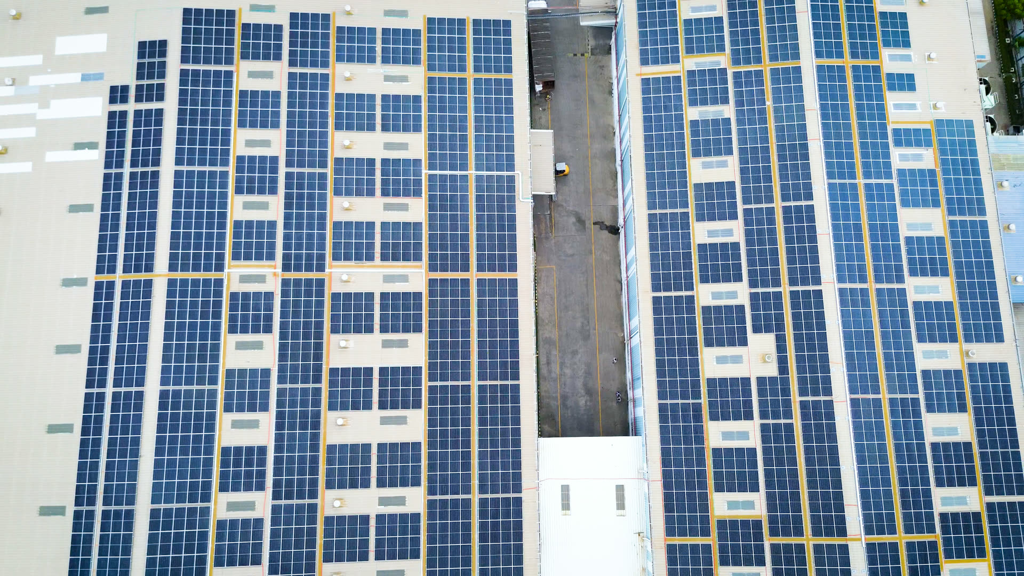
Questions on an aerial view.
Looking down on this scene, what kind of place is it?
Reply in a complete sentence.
The picture captures an industrial area.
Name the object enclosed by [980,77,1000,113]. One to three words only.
cooling tower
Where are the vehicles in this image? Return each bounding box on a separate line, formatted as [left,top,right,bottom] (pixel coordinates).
[556,164,570,178]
